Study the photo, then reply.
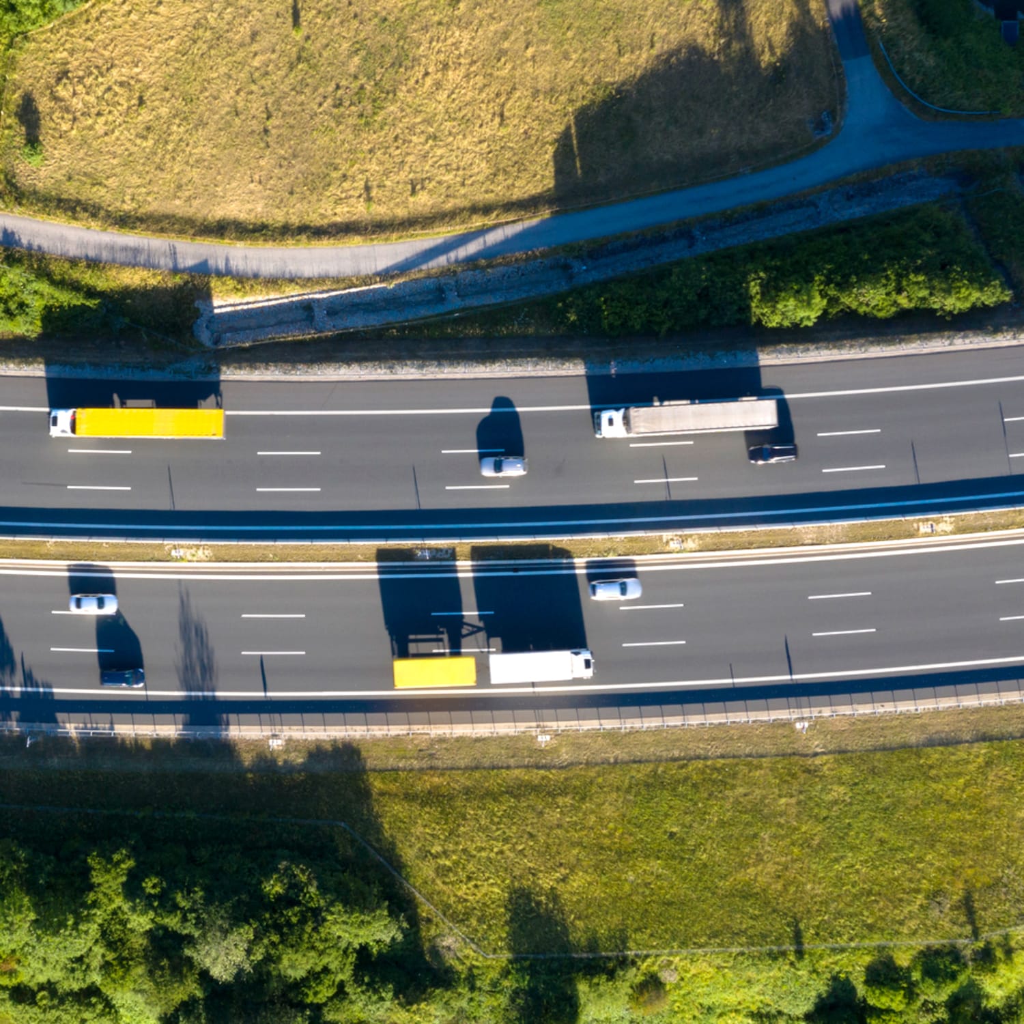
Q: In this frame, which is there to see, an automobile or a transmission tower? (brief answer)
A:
automobile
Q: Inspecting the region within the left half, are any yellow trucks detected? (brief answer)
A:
Yes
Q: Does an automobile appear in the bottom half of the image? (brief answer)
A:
Yes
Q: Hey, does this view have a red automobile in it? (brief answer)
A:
No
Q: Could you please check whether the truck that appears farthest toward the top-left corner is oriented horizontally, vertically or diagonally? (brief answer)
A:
horizontally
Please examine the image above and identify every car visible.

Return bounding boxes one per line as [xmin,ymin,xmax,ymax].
[70,593,119,616]
[480,455,528,478]
[100,667,145,690]
[747,442,798,465]
[592,577,643,600]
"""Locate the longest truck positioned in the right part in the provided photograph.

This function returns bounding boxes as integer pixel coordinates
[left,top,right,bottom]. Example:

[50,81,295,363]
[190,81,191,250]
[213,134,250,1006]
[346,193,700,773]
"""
[592,401,779,443]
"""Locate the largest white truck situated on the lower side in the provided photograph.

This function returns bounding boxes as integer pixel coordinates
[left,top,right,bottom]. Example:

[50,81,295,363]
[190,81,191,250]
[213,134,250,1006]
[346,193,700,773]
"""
[488,646,594,683]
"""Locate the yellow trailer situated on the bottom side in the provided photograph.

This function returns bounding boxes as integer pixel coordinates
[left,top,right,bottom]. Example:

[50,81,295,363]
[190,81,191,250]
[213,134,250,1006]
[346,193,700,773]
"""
[393,653,489,687]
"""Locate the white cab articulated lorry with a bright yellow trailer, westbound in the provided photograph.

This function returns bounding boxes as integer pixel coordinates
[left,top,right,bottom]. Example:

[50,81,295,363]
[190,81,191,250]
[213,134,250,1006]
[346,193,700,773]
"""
[48,405,226,439]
